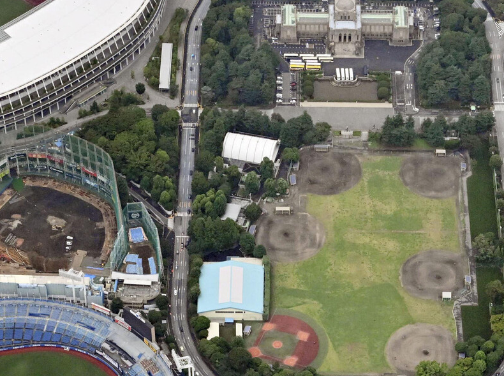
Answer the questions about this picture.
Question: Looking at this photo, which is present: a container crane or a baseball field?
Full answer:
Visible in the photo is a baseball field.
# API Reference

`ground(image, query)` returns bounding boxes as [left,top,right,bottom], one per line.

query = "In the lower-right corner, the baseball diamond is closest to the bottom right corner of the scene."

[388,321,456,370]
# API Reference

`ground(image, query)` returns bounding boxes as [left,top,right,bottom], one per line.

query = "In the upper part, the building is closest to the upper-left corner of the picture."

[161,43,174,93]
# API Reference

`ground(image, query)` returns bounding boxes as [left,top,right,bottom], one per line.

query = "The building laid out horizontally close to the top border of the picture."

[269,0,421,56]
